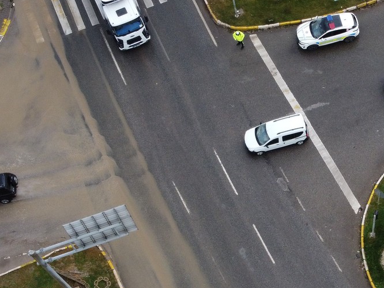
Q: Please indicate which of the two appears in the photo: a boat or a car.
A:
car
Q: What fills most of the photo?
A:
paved ground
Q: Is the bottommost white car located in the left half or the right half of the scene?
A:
right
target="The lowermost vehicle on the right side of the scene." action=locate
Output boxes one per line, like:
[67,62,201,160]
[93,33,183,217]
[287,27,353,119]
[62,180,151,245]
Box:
[244,116,310,158]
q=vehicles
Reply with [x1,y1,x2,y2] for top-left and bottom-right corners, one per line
[0,173,16,205]
[295,10,360,51]
[244,116,310,158]
[95,0,152,53]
